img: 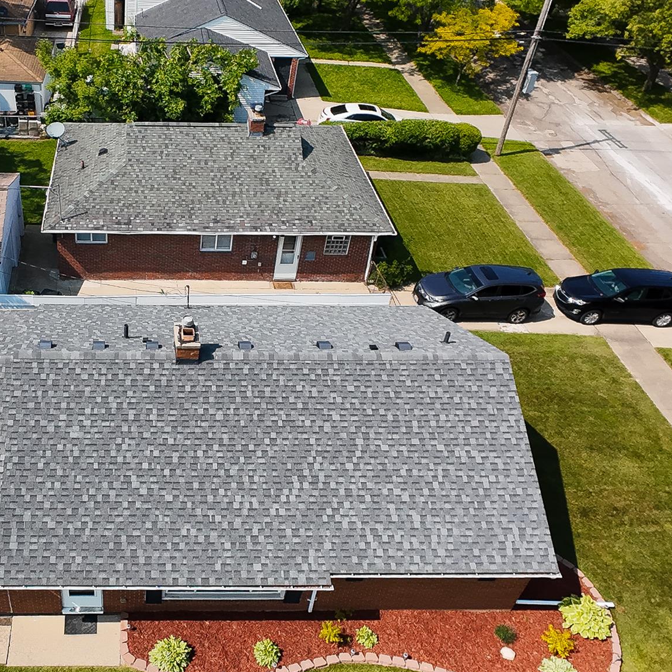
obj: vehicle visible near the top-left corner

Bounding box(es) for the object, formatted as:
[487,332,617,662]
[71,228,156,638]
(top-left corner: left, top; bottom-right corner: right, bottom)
[47,0,75,22]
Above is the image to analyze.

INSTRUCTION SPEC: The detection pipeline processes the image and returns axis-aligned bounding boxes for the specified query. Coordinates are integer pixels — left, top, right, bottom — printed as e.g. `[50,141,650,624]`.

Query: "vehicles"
[320,105,410,138]
[553,265,672,324]
[416,262,550,321]
[47,0,75,22]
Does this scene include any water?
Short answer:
No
